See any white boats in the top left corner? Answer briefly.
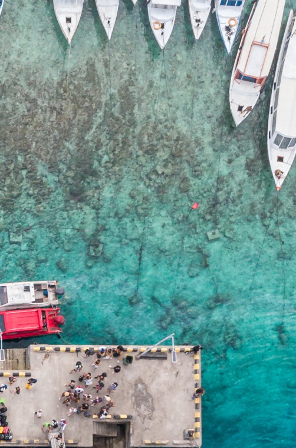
Yes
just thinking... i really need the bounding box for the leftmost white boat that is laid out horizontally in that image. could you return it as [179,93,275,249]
[0,279,66,310]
